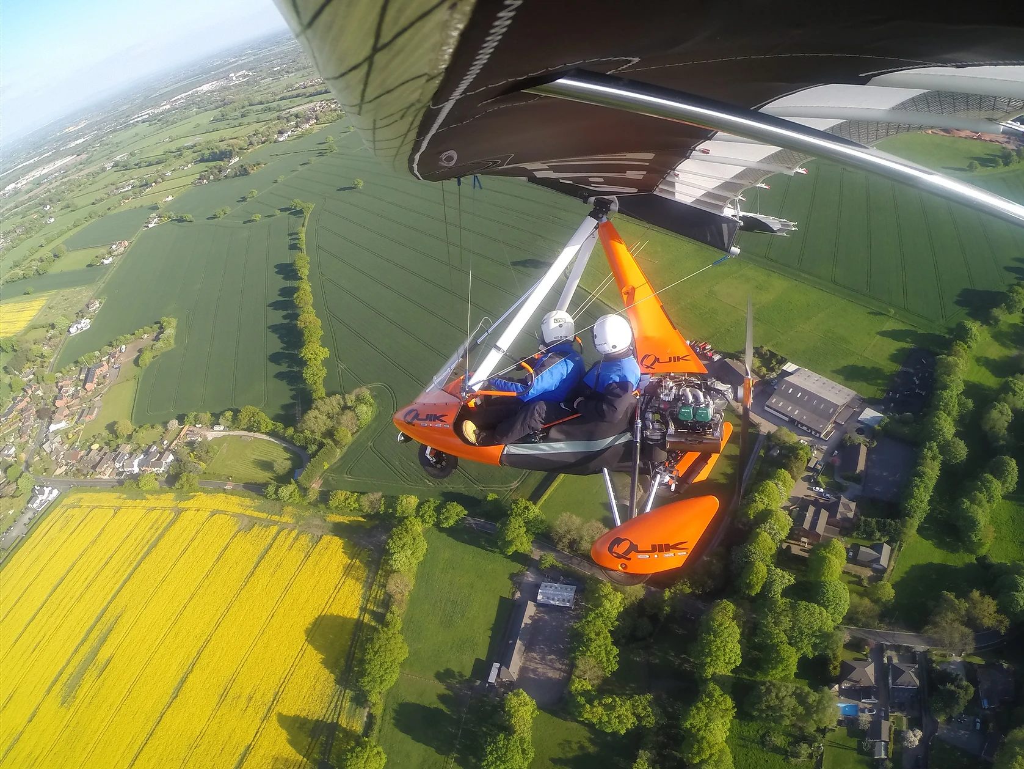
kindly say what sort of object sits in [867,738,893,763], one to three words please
shed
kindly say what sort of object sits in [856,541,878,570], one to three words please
building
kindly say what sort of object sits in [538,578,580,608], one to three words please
barn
